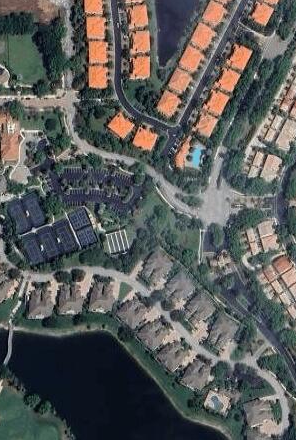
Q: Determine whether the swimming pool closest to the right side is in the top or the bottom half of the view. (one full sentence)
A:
Seen from above, the swimming pool closest to the right side lies in the bottom half of the view.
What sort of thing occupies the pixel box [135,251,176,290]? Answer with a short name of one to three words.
house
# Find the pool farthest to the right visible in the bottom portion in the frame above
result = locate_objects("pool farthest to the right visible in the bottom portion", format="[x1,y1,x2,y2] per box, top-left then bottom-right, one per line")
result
[205,391,229,412]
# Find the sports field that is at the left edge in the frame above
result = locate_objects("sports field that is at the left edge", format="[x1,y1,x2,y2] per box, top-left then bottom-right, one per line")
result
[0,32,47,85]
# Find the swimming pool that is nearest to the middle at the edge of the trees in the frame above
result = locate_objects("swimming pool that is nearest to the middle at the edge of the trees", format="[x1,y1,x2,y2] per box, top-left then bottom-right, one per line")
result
[189,138,207,170]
